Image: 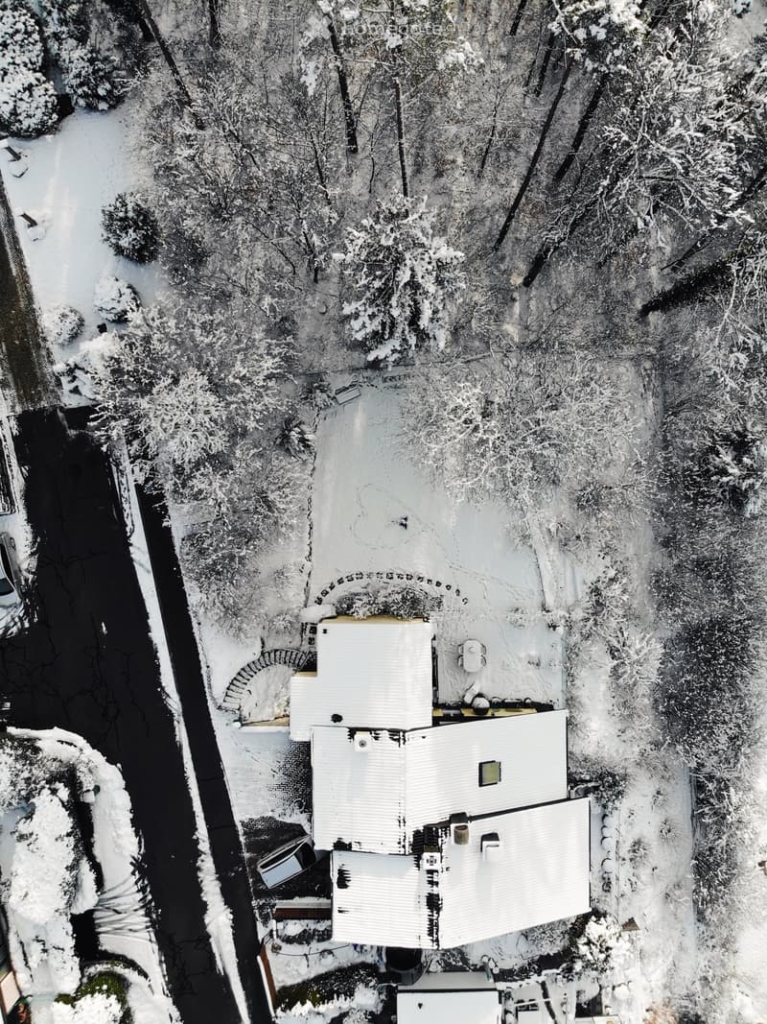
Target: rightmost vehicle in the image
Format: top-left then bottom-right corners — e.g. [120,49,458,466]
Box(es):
[256,834,318,884]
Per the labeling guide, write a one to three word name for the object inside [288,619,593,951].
house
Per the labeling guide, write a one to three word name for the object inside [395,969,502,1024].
building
